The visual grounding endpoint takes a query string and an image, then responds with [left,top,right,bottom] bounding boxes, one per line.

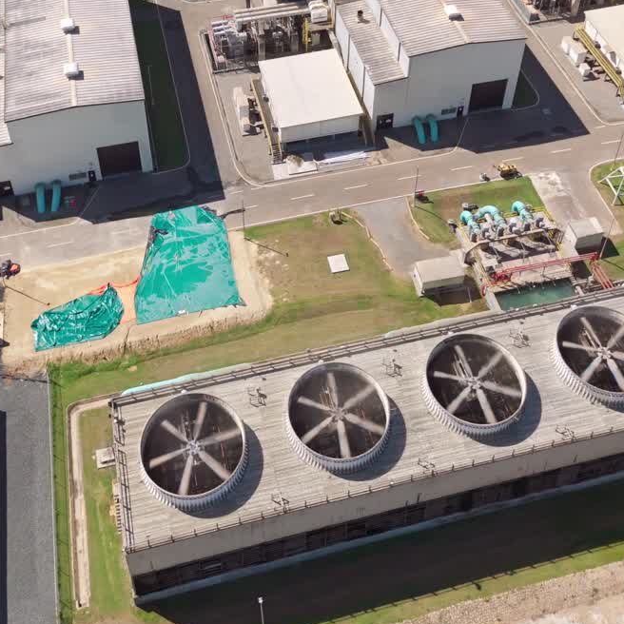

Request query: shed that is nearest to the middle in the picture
[412,252,468,295]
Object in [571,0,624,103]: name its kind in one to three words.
building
